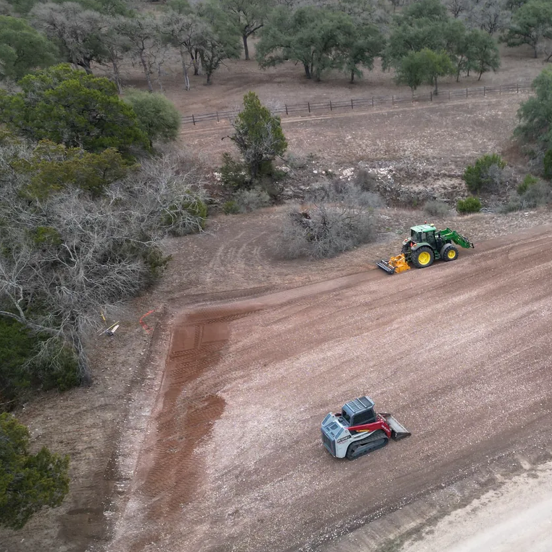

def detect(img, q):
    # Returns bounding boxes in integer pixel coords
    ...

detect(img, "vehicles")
[399,222,470,269]
[318,393,409,460]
